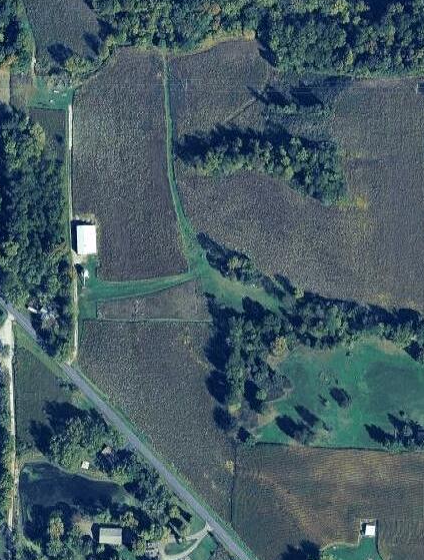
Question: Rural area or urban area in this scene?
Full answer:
This place is rural.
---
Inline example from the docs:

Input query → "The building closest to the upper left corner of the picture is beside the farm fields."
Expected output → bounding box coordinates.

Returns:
[76,226,96,254]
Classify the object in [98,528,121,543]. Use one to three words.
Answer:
house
